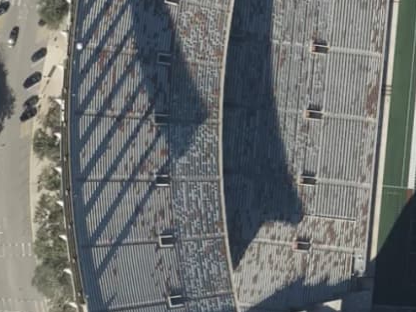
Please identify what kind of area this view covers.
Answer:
sports ground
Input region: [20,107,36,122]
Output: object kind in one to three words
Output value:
car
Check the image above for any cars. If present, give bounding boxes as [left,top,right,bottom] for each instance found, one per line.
[25,72,40,86]
[9,26,18,44]
[25,93,40,108]
[20,107,36,122]
[31,47,47,62]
